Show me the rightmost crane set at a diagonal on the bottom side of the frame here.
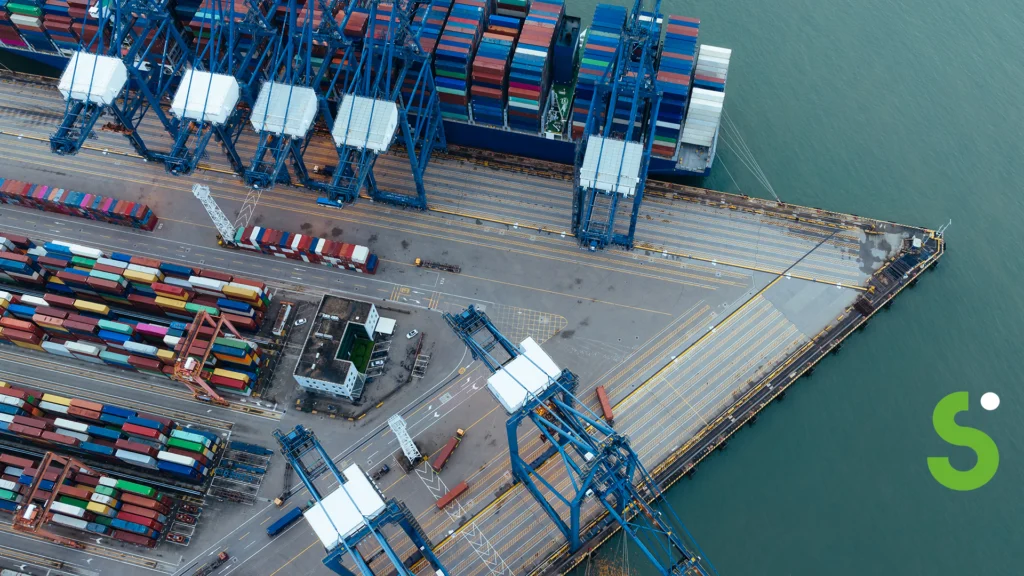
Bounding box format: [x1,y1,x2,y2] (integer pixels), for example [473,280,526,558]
[445,304,730,576]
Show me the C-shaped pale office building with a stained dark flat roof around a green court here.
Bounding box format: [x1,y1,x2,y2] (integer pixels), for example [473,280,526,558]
[290,294,379,399]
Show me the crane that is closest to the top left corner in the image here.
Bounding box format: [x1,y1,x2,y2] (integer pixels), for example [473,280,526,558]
[44,0,225,168]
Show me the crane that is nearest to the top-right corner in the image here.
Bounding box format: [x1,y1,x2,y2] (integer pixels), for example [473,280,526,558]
[570,0,668,248]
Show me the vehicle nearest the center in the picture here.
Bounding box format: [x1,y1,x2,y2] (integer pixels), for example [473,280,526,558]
[415,256,460,271]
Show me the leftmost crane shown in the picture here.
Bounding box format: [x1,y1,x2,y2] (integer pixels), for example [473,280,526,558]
[2,449,92,546]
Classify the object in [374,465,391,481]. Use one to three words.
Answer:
vehicle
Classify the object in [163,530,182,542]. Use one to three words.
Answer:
vehicle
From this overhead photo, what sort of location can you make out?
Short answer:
port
